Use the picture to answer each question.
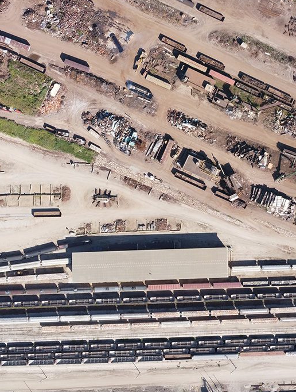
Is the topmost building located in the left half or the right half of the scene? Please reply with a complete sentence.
The topmost building sits on the right side.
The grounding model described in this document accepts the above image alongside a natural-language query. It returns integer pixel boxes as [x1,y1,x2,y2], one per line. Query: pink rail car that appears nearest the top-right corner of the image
[210,70,235,84]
